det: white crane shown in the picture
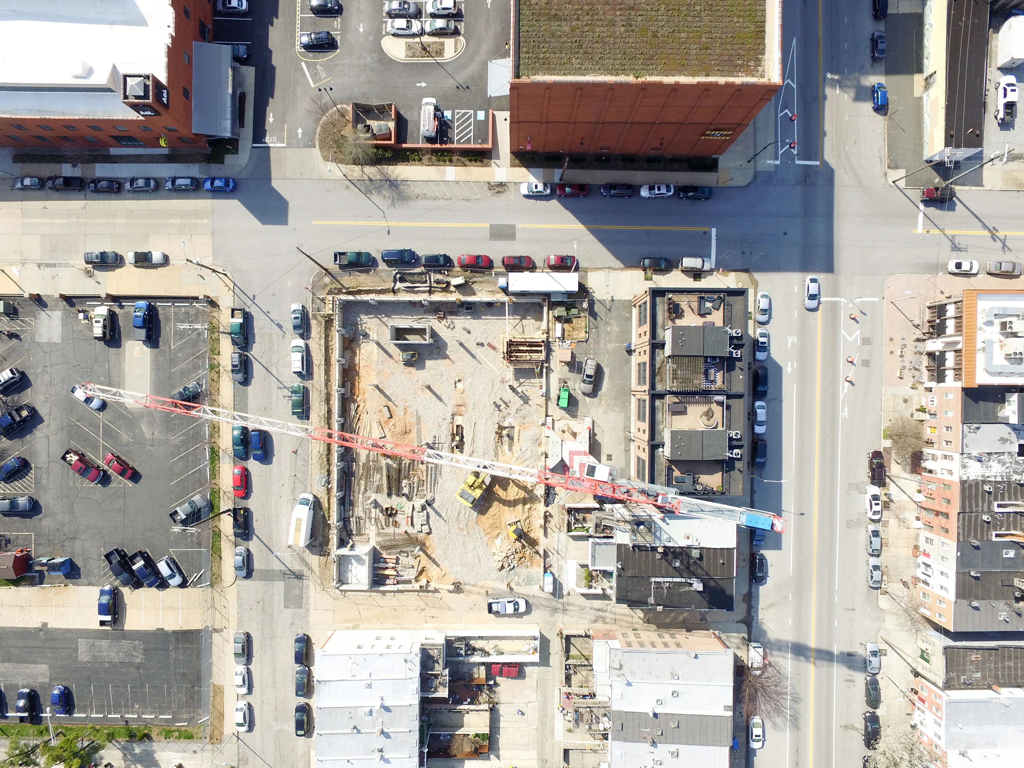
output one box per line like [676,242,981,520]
[67,378,785,540]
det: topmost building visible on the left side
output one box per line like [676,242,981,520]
[0,0,211,148]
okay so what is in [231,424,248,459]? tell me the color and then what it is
blue car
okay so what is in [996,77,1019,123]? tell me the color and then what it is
white truck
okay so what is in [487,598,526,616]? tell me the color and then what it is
white vehicle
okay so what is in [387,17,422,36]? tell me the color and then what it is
white car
